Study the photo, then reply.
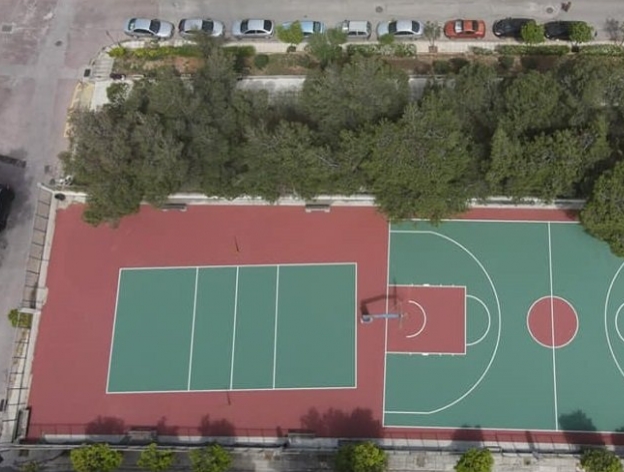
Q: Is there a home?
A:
No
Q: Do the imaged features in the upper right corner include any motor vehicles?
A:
Yes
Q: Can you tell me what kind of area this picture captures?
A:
sports ground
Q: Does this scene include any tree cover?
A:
Yes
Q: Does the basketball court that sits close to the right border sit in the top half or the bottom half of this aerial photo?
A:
bottom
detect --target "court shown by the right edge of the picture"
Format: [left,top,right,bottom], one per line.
[381,219,624,433]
